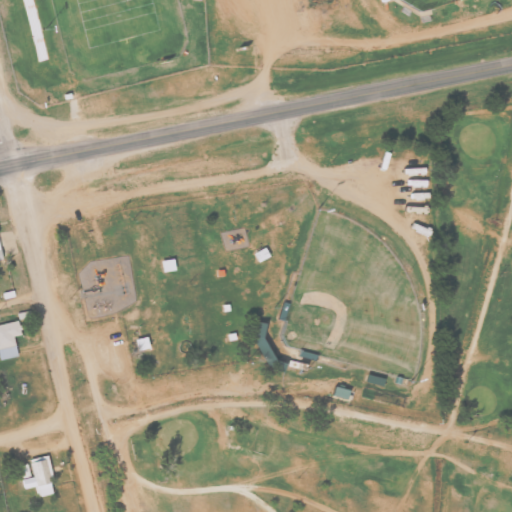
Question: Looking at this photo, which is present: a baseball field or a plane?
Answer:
baseball field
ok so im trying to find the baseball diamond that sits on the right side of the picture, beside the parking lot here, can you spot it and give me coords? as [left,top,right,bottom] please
[282,206,424,384]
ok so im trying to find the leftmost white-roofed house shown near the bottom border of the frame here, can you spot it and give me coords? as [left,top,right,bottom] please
[24,458,54,498]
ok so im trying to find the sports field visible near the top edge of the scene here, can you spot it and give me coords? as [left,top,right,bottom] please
[74,0,164,52]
